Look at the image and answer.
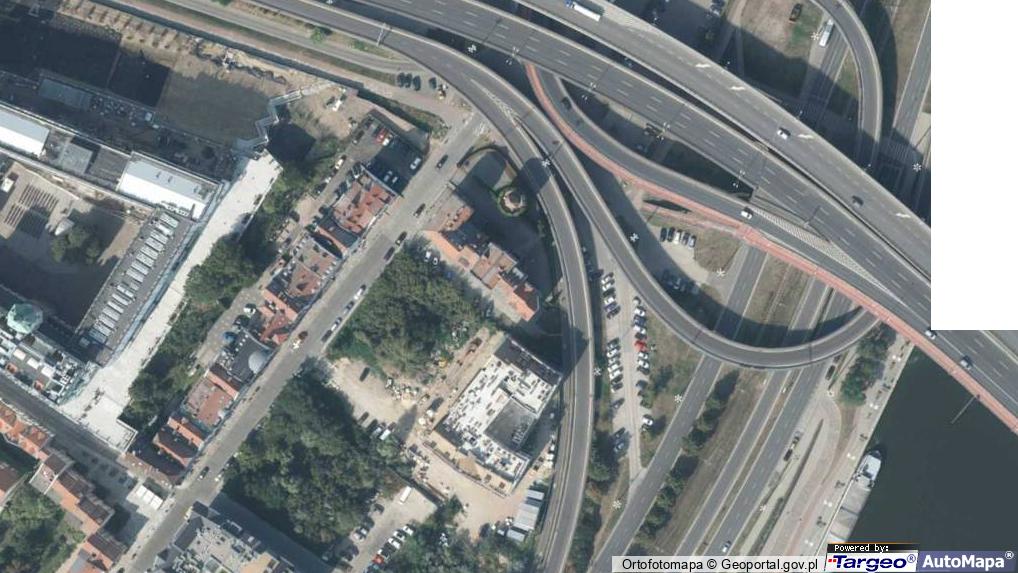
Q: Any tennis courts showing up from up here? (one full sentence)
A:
No, the frame has no tennis court in it.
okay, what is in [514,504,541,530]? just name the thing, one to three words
shed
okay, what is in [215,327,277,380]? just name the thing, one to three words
house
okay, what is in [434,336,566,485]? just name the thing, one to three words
building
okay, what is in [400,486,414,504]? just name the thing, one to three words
vehicle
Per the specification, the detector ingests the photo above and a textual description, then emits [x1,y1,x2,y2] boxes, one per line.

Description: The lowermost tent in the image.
[135,485,164,511]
